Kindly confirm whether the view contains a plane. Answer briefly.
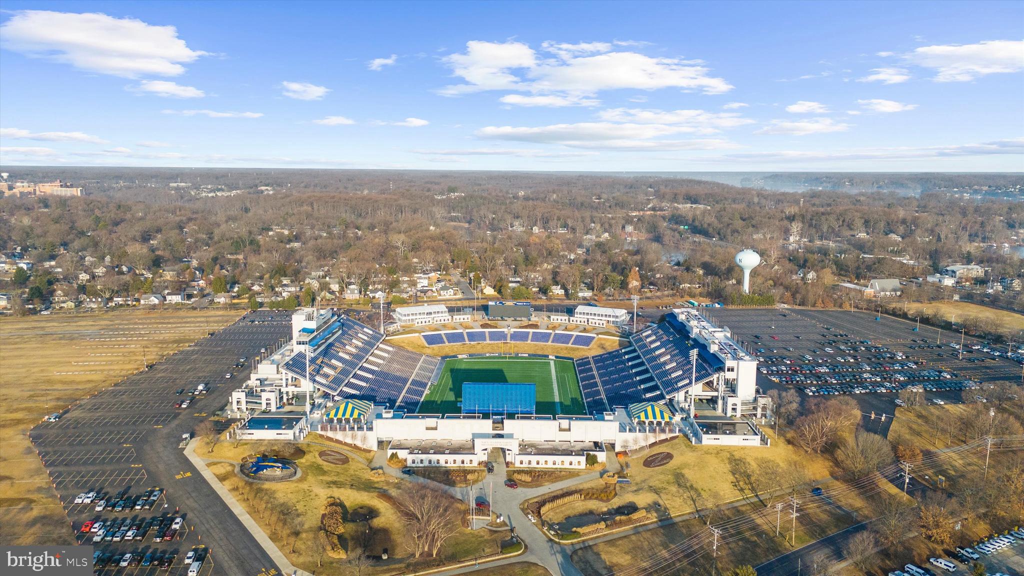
Yes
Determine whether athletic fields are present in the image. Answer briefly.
Yes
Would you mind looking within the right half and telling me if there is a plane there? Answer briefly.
No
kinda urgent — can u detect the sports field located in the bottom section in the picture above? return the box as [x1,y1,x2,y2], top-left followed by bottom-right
[419,351,582,417]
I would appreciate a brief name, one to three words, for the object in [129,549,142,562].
vehicle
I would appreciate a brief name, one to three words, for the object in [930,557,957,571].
vehicle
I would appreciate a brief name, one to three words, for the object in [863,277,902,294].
building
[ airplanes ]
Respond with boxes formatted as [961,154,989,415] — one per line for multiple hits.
[245,448,286,473]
